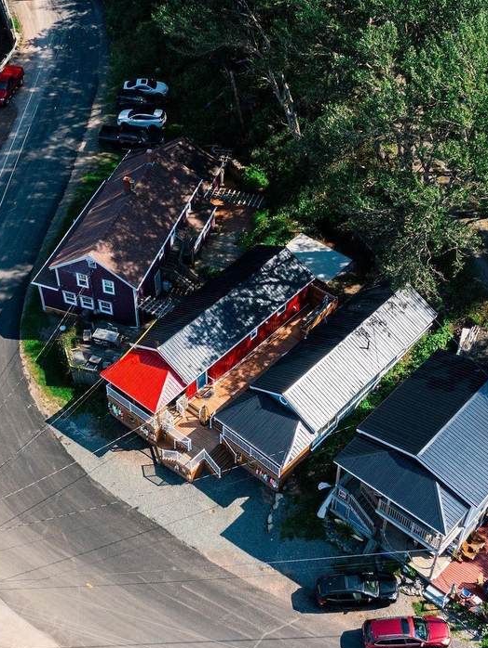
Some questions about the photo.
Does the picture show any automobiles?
Yes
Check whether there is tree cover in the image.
Yes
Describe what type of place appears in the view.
residential area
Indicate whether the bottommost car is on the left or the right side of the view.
right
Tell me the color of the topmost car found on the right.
black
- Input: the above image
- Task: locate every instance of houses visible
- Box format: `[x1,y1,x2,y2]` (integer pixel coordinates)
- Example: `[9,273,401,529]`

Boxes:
[99,244,317,441]
[318,346,488,575]
[214,280,439,491]
[30,129,220,333]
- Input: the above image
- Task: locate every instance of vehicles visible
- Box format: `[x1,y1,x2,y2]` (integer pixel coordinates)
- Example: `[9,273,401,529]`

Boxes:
[0,62,27,103]
[119,74,171,98]
[115,106,170,130]
[354,605,453,648]
[314,560,406,606]
[113,89,165,111]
